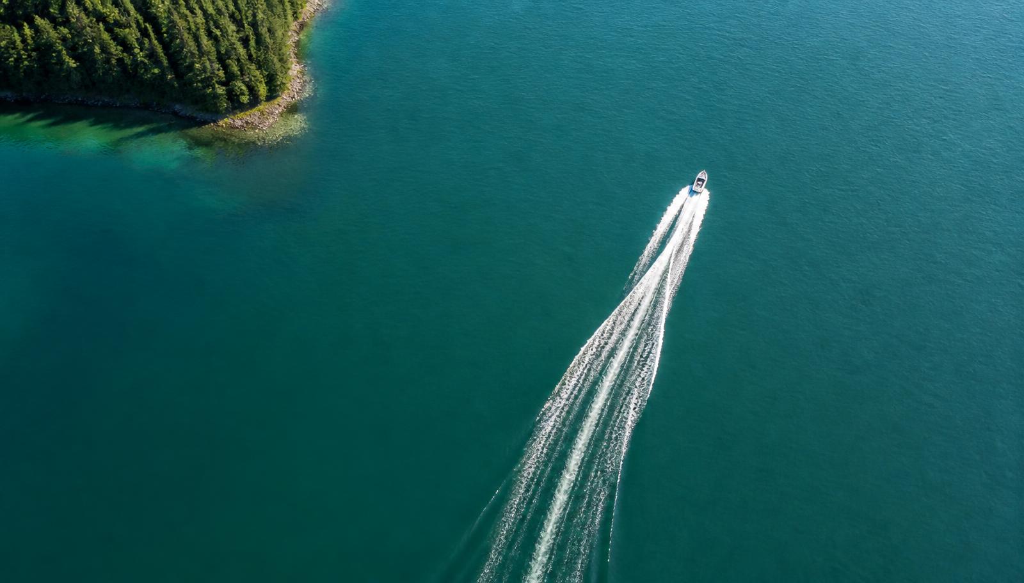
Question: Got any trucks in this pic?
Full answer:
No, the scene contains no truck.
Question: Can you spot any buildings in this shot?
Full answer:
No, I can see no building in this picture.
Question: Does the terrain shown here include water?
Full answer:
Yes, the picture does contain water.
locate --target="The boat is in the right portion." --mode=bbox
[692,170,707,193]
